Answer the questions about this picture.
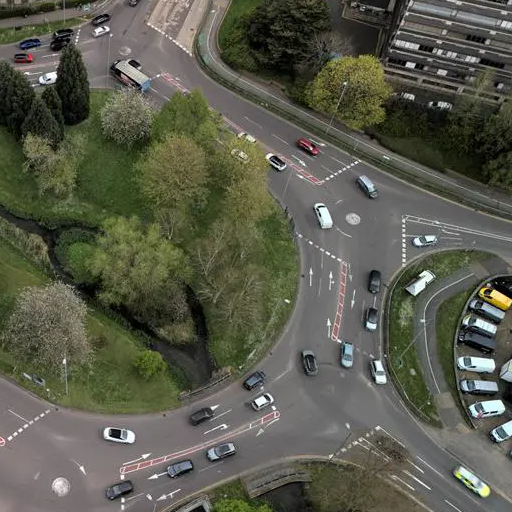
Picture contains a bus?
Yes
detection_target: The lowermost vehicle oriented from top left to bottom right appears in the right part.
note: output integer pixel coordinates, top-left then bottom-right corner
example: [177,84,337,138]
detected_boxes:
[454,467,490,499]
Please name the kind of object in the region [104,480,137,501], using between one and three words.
car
